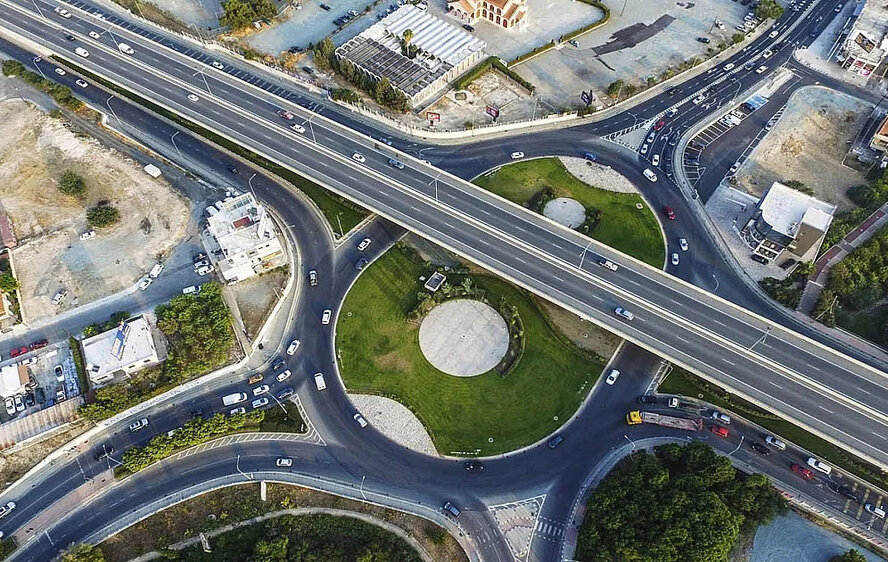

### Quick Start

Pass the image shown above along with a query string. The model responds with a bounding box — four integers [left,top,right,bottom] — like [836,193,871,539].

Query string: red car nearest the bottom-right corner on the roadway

[791,464,813,479]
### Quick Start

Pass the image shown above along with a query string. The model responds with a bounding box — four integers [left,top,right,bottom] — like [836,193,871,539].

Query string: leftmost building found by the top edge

[336,5,486,111]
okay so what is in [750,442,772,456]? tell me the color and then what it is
black vehicle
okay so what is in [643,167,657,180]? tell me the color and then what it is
white vehicle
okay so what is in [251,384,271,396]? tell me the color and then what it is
white vehicle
